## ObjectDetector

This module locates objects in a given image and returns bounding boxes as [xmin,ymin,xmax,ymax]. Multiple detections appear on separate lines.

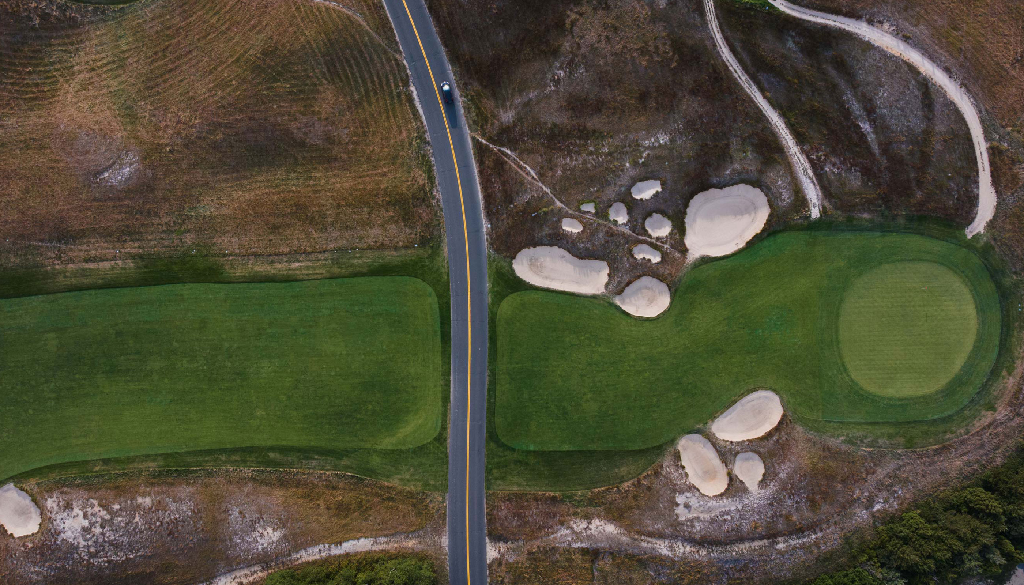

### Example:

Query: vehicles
[441,80,453,103]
